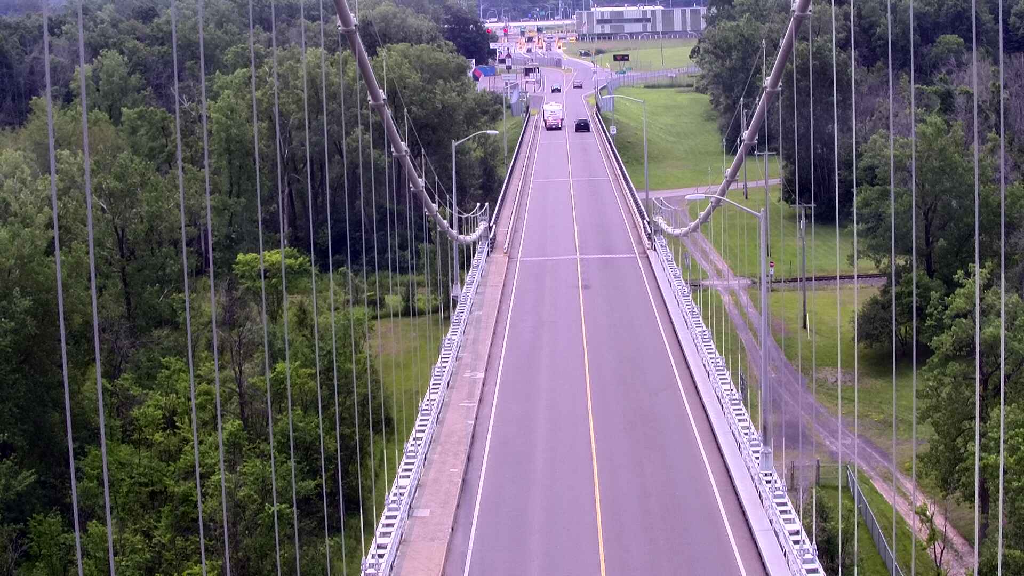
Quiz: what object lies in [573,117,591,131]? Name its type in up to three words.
car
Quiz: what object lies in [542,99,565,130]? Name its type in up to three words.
camper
